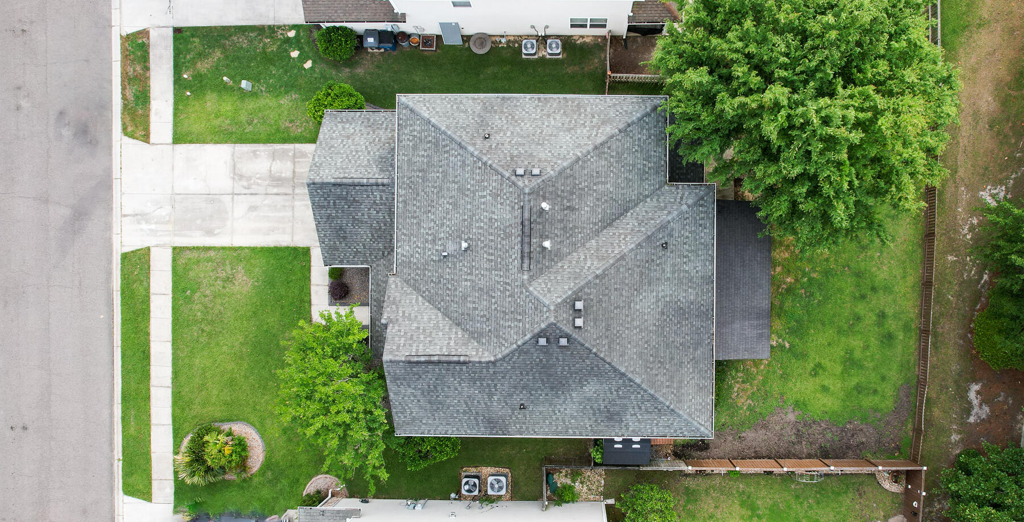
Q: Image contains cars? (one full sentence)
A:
No, I can see no car in this picture.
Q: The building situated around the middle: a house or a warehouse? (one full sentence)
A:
The building situated around the middle appears to be a house.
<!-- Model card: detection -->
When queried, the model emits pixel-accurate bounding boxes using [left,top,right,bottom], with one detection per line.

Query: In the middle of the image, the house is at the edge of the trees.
[307,94,771,438]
